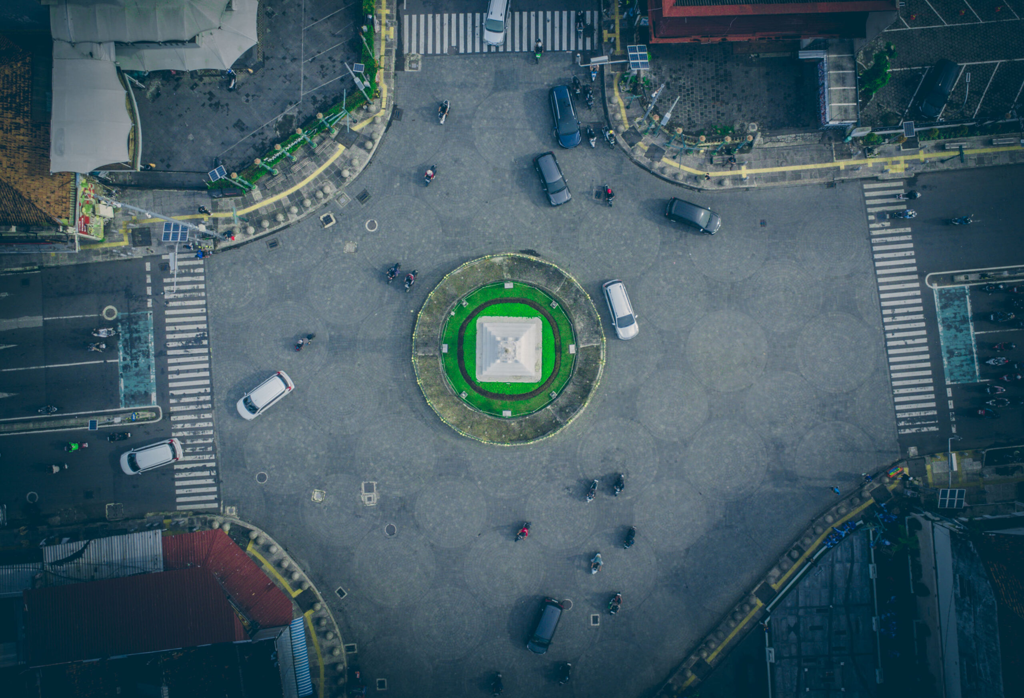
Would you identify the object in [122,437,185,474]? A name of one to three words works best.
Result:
car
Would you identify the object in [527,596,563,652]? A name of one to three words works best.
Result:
car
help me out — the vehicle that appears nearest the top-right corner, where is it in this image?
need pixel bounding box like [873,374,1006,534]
[914,54,965,119]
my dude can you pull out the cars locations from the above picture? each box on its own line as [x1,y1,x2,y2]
[122,437,185,474]
[238,369,296,417]
[534,150,569,207]
[600,277,637,341]
[527,596,563,652]
[482,0,514,49]
[547,82,582,150]
[664,196,719,236]
[914,54,965,119]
